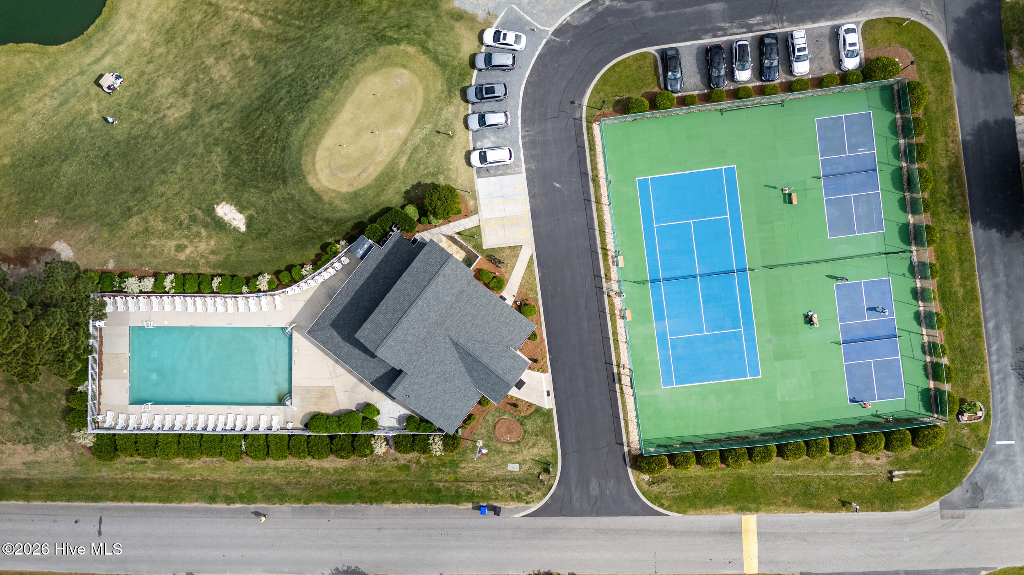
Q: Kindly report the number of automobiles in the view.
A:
eleven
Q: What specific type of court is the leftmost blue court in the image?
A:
tennis court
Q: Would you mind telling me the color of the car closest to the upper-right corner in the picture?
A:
white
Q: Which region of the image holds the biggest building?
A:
center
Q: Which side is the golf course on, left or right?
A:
left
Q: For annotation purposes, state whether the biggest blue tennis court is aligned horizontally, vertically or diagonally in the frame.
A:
vertically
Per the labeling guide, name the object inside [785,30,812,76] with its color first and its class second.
white car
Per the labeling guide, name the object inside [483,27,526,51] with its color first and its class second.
white car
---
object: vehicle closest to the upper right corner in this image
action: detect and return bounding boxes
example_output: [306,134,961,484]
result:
[836,25,861,70]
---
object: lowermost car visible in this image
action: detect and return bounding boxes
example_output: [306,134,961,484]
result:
[470,146,513,167]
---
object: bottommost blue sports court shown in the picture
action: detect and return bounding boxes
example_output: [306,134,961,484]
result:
[835,278,905,405]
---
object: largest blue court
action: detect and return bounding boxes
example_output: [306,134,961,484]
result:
[637,165,761,388]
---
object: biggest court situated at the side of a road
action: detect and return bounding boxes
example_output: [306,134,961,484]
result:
[599,86,931,448]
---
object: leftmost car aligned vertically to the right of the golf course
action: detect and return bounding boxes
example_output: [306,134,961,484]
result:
[662,48,685,92]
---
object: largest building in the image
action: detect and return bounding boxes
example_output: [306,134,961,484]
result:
[305,230,537,434]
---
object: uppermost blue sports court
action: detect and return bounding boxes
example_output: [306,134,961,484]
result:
[816,111,884,238]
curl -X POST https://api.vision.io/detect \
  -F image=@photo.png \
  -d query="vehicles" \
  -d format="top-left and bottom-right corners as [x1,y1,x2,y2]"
[705,45,729,88]
[470,146,513,167]
[662,48,685,92]
[467,110,510,131]
[98,68,123,94]
[466,82,508,104]
[730,40,753,82]
[836,25,861,70]
[785,30,812,76]
[483,27,526,51]
[474,50,515,72]
[757,34,782,80]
